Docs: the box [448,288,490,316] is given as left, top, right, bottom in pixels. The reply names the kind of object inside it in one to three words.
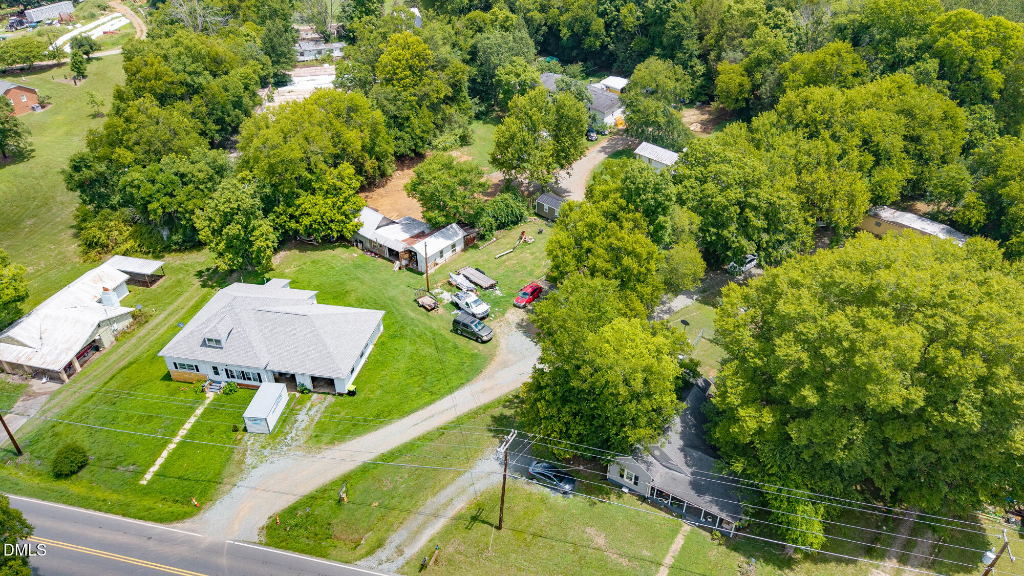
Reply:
truck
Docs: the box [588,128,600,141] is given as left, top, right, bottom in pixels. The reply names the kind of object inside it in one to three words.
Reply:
vehicle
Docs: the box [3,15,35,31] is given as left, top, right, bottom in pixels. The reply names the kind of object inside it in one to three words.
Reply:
vehicle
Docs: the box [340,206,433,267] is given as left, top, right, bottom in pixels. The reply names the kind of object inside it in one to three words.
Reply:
barn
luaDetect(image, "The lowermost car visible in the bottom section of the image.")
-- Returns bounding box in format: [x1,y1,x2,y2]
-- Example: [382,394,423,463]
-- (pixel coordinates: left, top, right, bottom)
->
[523,458,580,493]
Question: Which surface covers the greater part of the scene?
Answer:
trees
